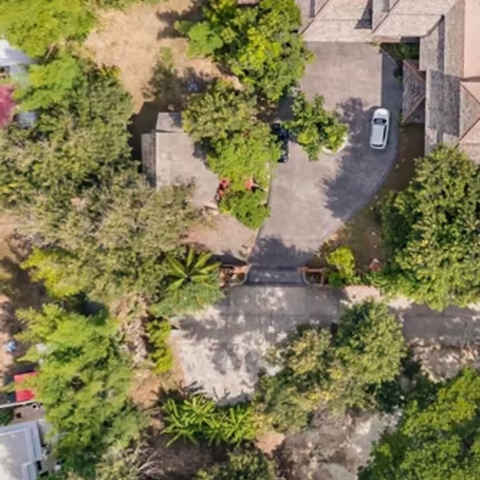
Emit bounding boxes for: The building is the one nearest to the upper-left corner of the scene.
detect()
[0,38,43,85]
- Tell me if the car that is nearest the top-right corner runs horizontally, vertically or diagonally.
vertically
